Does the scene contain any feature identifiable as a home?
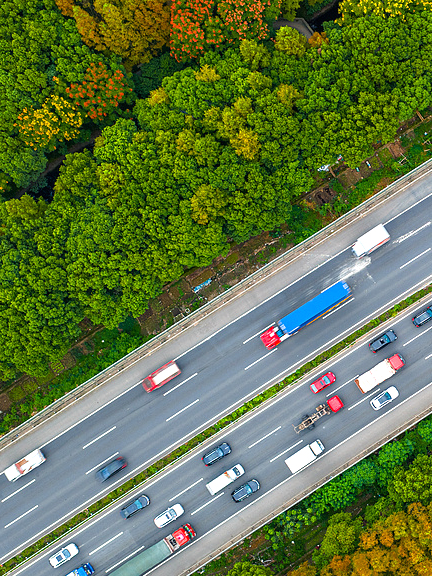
No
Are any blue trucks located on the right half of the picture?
Yes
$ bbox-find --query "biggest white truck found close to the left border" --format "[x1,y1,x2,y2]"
[6,447,49,482]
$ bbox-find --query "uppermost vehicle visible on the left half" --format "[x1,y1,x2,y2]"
[142,360,183,393]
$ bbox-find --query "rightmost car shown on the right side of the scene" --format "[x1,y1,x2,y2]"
[411,305,432,328]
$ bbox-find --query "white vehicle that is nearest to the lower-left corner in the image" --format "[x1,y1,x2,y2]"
[48,543,80,568]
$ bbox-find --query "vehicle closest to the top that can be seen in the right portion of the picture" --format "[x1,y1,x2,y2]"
[350,226,390,260]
